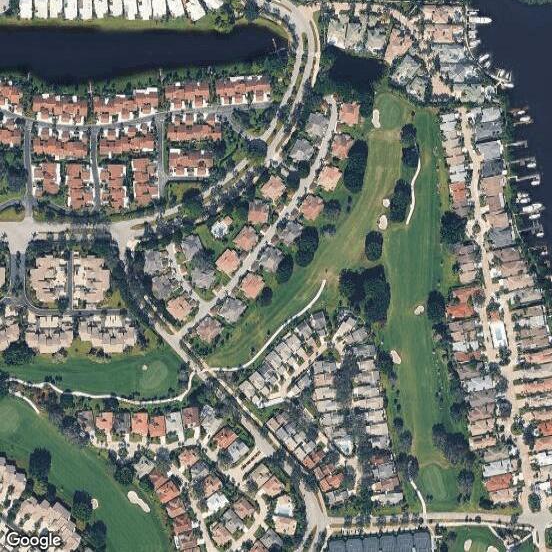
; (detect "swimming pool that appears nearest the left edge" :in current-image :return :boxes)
[211,224,228,236]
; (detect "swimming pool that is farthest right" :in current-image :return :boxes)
[490,318,508,349]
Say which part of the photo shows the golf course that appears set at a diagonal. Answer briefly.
bottom left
